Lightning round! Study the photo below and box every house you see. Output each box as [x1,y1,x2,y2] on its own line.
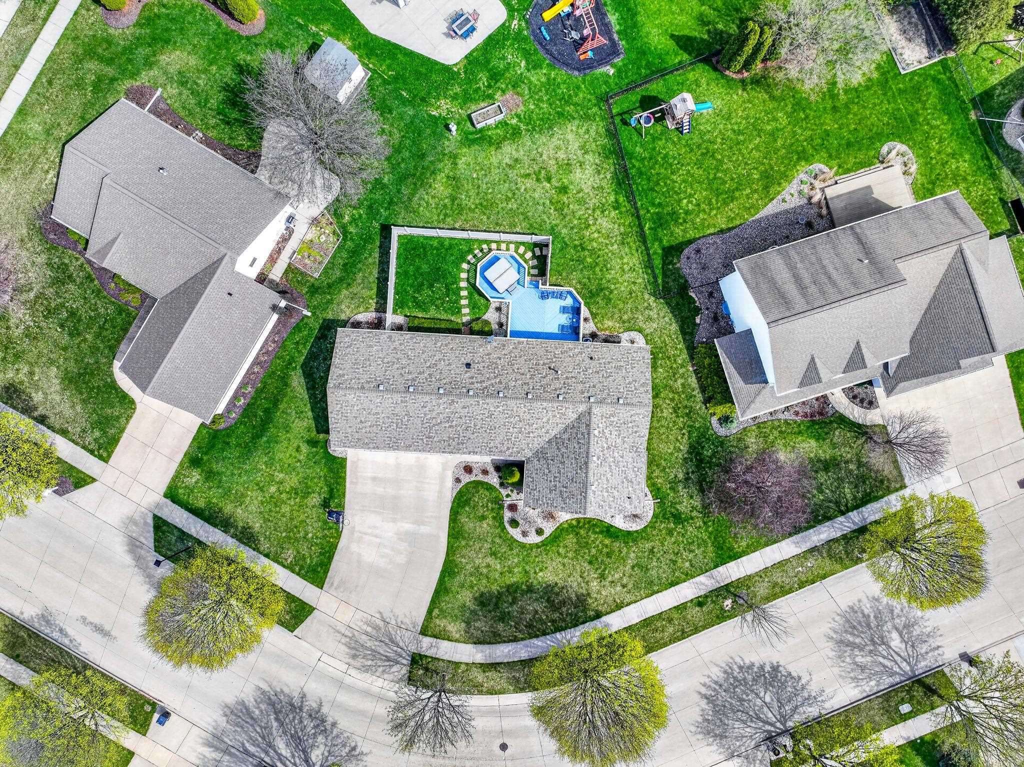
[51,97,297,424]
[711,190,1024,422]
[327,327,653,515]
